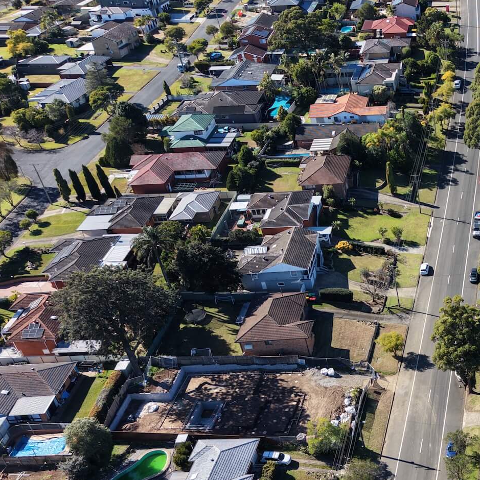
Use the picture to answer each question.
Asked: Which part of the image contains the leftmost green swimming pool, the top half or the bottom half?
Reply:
bottom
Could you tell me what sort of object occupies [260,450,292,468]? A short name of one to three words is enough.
car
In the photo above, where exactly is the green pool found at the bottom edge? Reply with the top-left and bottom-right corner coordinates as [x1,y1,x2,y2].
[109,448,171,480]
